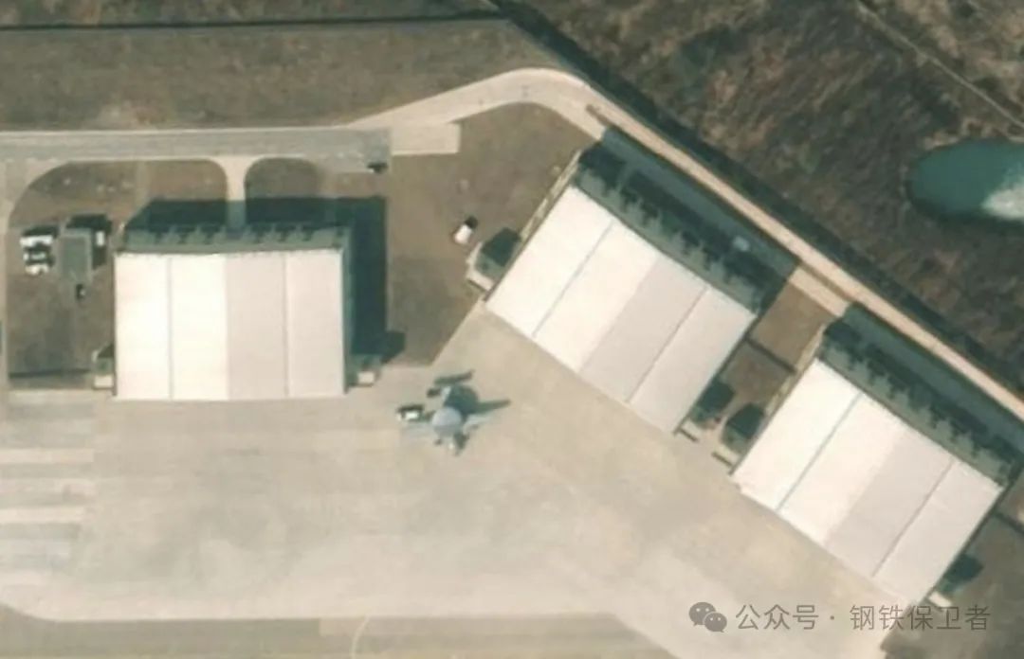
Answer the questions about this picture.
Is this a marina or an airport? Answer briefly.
airport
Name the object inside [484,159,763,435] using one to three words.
hangar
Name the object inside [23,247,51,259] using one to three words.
vehicle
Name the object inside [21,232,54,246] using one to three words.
vehicle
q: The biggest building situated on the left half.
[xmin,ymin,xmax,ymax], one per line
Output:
[113,221,354,401]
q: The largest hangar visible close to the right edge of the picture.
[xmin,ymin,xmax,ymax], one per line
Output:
[731,330,1011,607]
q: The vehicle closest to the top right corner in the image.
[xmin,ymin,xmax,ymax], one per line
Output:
[731,235,749,250]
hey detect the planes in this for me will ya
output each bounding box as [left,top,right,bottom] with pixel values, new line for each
[402,388,497,448]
